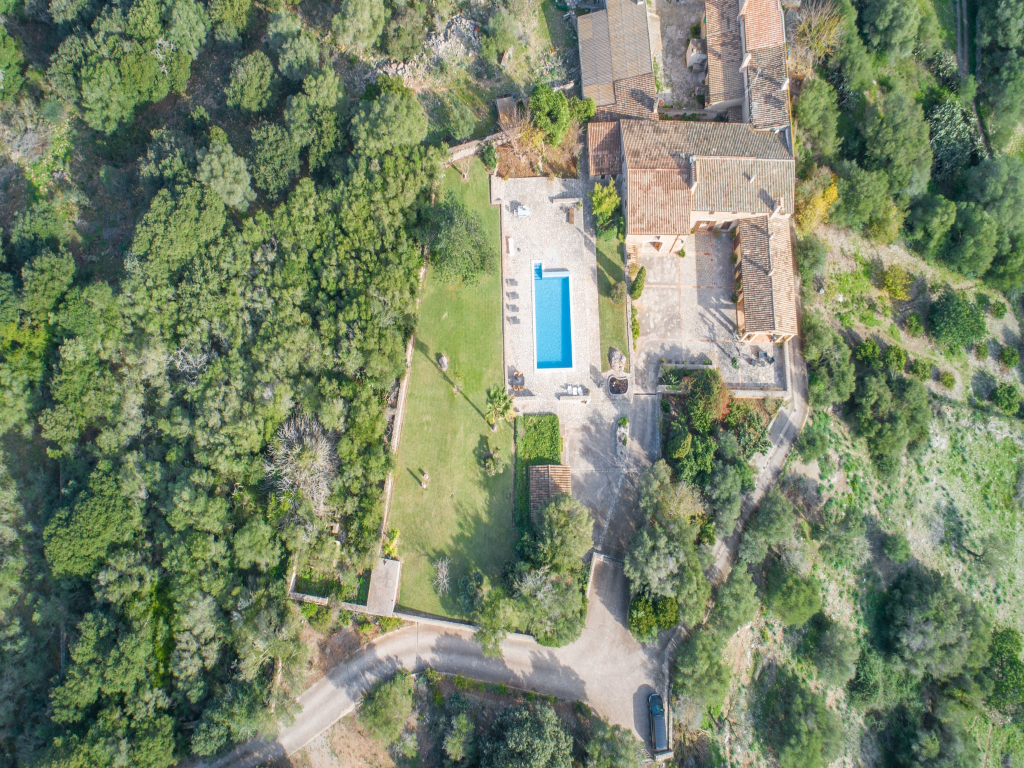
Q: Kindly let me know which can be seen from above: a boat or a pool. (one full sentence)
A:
There is a pool in the scene.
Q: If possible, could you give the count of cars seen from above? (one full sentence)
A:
The photo contains exactly 1 car.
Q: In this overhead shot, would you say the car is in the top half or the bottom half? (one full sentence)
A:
The bottom half of the photo is where the car is.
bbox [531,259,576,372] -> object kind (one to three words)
swimming pool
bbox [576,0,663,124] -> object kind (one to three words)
barn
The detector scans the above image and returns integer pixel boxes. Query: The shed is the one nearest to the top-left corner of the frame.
[496,94,525,135]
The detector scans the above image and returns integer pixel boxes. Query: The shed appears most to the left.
[368,558,403,616]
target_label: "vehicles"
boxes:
[647,697,673,754]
